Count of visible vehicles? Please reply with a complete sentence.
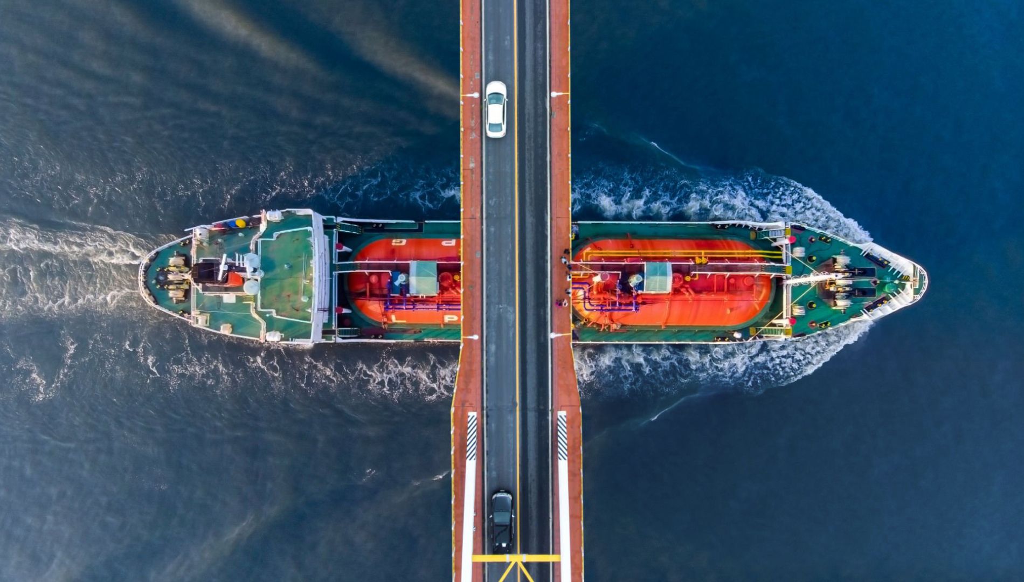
In total, there are 2 vehicles in the scene.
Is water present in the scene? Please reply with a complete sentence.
Yes, some water is visible.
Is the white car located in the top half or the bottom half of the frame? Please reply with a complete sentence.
The white car sits in the top half of the picture.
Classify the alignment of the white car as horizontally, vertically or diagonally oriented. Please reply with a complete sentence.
What the image shows is the white car lying vertically.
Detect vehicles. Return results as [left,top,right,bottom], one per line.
[488,489,516,554]
[483,82,509,139]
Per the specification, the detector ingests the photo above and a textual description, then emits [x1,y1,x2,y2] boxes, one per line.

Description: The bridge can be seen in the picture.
[462,407,571,582]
